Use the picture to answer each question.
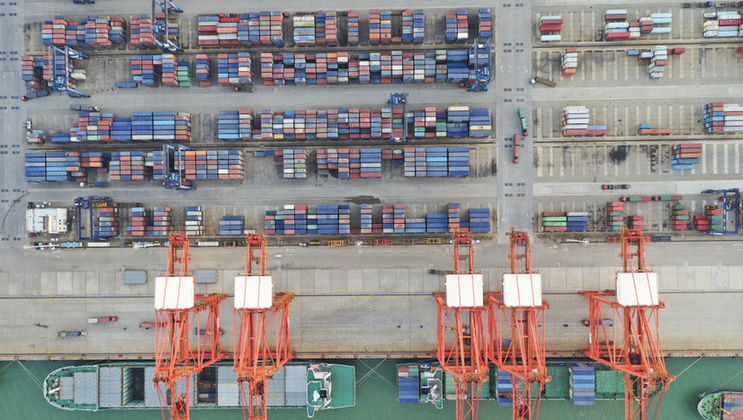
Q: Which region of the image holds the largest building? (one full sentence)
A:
The largest building appears toward the left of the photo.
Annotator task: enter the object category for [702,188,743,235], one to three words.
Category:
crane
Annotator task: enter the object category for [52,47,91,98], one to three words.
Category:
crane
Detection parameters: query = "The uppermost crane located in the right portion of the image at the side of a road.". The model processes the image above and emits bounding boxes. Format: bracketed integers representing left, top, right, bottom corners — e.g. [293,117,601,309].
[465,38,492,91]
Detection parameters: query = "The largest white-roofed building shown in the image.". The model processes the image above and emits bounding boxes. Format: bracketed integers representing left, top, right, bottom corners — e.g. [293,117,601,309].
[25,208,72,235]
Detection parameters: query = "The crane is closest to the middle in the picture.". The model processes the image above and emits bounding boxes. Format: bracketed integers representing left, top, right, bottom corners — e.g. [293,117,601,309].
[386,87,410,141]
